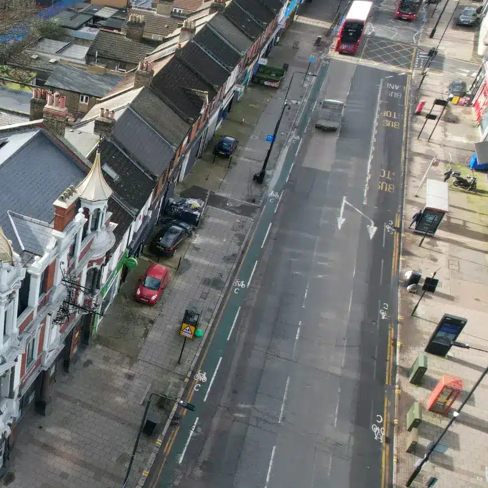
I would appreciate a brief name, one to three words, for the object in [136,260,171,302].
car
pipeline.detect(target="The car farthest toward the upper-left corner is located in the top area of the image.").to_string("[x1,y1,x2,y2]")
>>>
[213,136,241,159]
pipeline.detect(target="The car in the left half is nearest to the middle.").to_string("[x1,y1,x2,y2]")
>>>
[151,220,194,257]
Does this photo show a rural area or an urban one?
urban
